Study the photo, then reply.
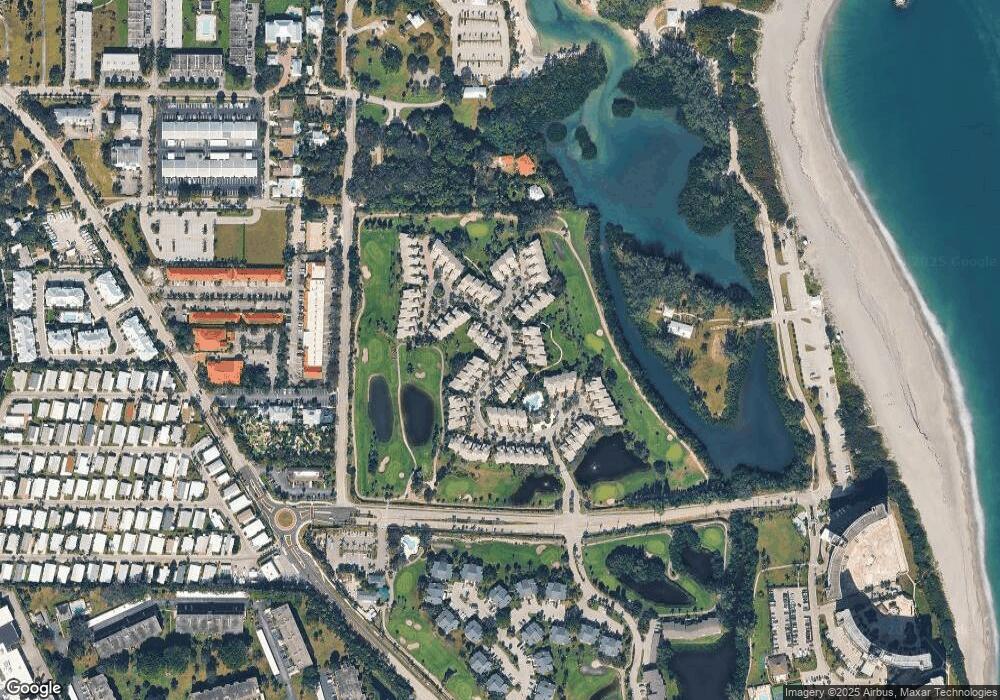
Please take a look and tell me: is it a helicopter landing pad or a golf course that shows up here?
golf course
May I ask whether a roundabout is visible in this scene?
Yes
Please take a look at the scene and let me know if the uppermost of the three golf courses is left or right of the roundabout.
right of it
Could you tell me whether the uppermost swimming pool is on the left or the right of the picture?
left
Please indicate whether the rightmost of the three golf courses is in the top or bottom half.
bottom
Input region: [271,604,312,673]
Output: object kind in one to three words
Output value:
building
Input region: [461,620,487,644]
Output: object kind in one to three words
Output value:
house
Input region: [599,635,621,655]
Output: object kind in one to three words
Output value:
house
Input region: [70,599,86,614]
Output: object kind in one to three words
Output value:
swimming pool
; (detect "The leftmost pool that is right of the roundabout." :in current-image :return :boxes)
[401,535,419,559]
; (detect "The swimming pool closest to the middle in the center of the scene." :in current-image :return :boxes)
[523,392,544,412]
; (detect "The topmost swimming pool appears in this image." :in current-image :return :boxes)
[195,15,216,41]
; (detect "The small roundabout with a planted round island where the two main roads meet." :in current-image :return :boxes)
[238,467,352,582]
